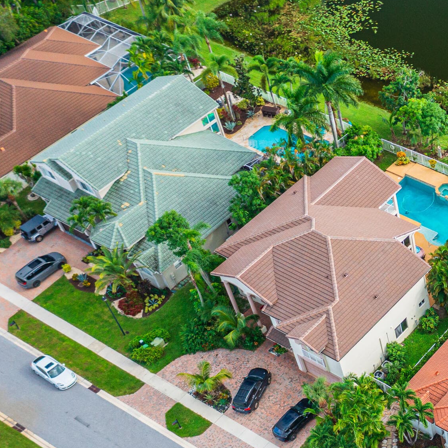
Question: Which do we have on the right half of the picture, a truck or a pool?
pool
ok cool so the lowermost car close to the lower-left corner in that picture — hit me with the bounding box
[28,357,81,393]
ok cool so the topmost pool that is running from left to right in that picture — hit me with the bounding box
[246,123,334,160]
